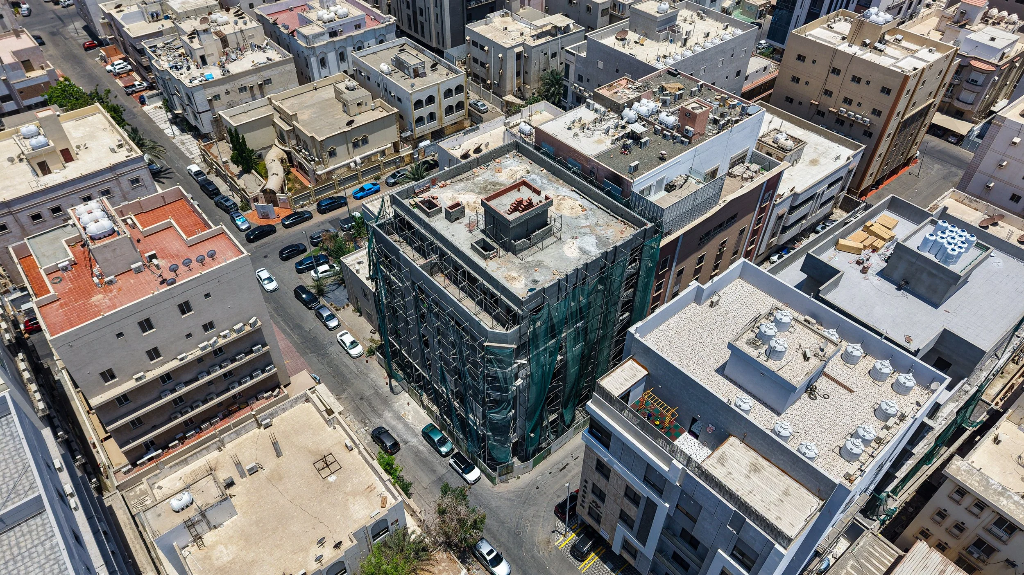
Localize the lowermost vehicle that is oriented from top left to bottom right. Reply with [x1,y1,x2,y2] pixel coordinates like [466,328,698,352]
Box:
[472,535,512,575]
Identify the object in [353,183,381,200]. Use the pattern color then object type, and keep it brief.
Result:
blue car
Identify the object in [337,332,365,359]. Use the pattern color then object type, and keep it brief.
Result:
white car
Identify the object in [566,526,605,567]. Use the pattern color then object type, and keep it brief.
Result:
black car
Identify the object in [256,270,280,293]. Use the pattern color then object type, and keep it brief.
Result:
white car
